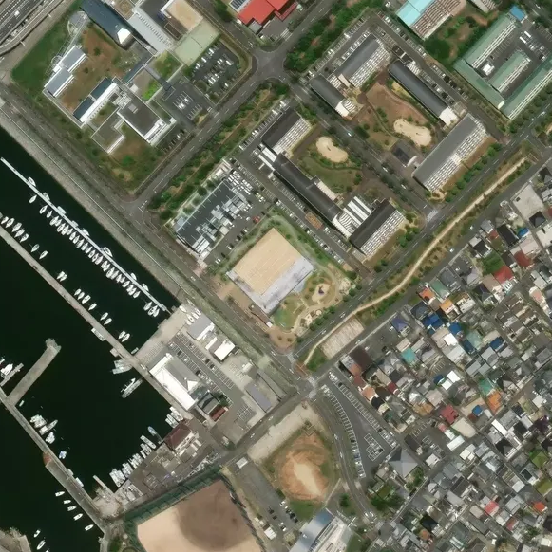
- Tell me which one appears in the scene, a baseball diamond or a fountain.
baseball diamond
